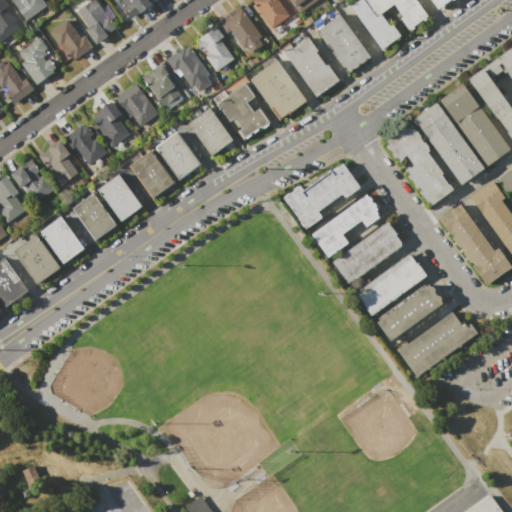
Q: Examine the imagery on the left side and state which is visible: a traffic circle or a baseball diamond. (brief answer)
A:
baseball diamond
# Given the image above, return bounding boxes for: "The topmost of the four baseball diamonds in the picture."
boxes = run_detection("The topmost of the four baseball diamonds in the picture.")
[52,346,122,416]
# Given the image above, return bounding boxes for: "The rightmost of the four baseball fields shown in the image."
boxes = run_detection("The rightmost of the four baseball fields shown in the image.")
[338,378,416,460]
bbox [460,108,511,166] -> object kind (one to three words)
building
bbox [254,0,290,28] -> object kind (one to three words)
house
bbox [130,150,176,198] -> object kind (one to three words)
building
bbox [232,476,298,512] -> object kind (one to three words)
baseball field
